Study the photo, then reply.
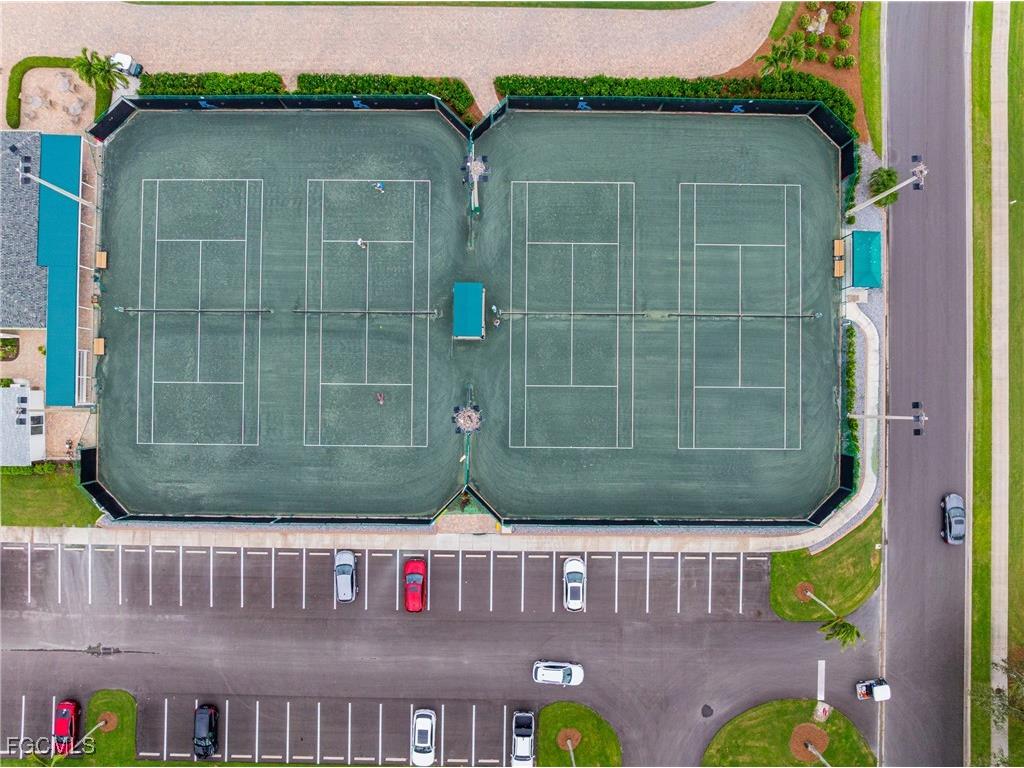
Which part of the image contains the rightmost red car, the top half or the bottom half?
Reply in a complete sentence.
The rightmost red car is in the bottom half of the image.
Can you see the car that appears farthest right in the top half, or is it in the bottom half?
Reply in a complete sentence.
You can find the car that appears farthest right in the bottom half.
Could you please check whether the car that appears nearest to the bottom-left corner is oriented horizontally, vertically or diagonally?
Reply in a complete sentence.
In this picture, the car that appears nearest to the bottom-left corner lies vertically.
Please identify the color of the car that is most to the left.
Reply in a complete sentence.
From above, the car that is most to the left appears red.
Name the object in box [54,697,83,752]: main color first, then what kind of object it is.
red car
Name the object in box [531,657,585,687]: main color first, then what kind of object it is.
white car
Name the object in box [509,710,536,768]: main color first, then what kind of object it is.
white truck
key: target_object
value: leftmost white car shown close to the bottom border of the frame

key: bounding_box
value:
[410,707,437,766]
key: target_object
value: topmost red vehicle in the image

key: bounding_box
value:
[401,557,428,612]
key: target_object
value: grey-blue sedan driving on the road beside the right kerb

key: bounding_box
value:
[938,493,968,545]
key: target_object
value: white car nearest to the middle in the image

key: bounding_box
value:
[561,556,586,611]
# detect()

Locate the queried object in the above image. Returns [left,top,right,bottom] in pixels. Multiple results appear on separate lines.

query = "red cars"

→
[401,557,428,612]
[54,697,83,752]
